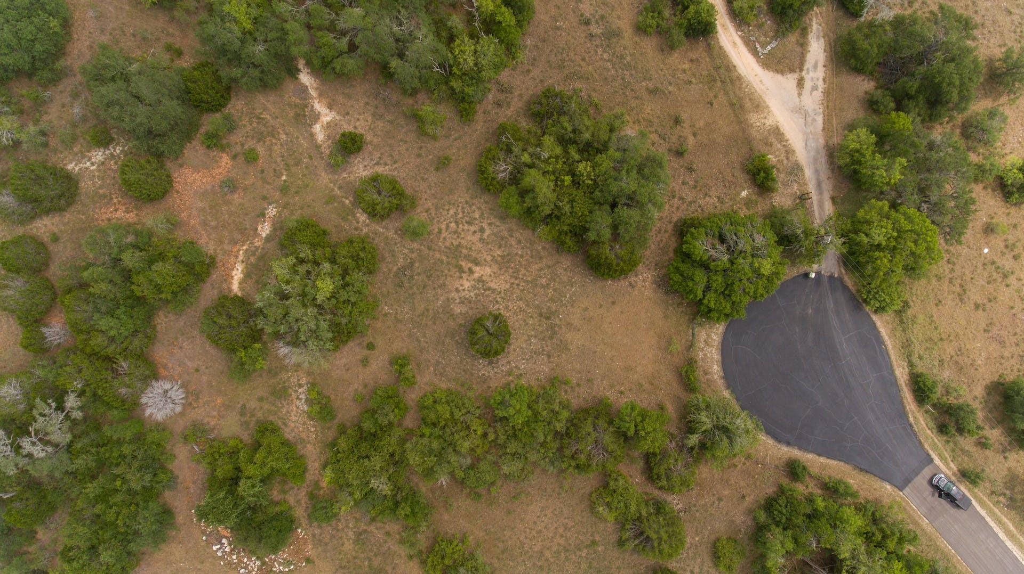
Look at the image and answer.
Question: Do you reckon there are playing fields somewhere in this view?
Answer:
No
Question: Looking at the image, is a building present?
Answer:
No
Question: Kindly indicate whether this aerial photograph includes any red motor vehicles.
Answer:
No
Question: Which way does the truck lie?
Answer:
on a diagonal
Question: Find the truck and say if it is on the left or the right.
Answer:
right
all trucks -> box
[930,473,975,513]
